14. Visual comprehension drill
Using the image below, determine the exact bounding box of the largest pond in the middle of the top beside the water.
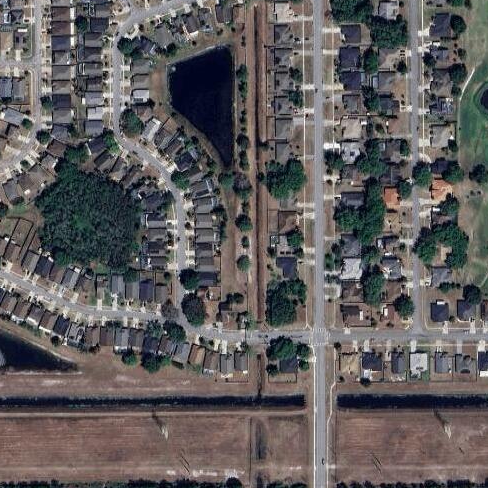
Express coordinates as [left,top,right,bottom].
[166,46,234,164]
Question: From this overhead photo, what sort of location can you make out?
residential area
